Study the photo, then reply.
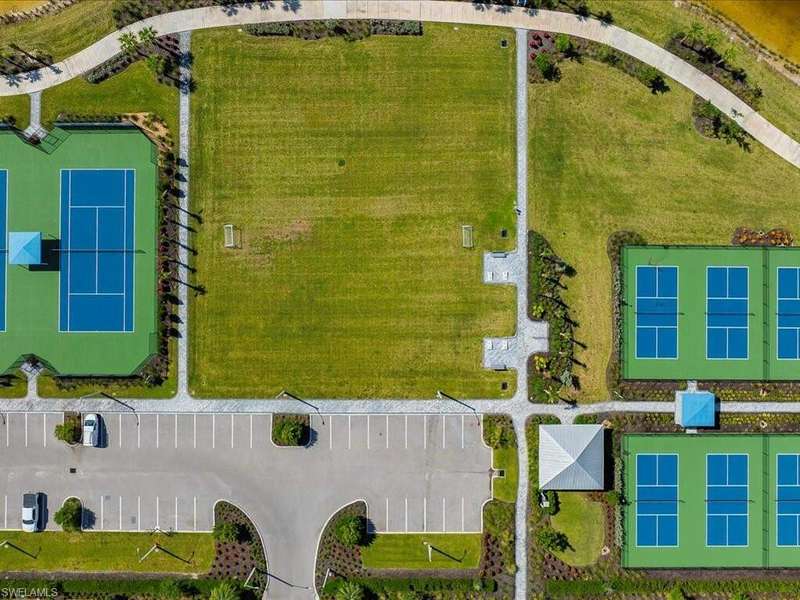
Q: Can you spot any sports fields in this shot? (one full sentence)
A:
Yes, you can see a sports field in this photo.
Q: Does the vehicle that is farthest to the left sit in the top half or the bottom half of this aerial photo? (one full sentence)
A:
The vehicle that is farthest to the left is in the bottom half of the image.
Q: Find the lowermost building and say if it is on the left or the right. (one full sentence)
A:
The lowermost building is on the right side of the image.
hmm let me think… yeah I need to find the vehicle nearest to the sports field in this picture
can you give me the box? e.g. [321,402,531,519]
[80,414,98,446]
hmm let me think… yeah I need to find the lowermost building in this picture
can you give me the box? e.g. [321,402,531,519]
[538,423,605,490]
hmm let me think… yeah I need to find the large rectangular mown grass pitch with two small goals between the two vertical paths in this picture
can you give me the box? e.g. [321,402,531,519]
[190,21,517,398]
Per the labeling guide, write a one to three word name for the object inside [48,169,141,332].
tennis court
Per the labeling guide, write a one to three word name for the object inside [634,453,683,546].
sports court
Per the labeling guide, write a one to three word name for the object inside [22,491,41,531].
vehicle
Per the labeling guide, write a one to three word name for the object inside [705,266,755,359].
sports court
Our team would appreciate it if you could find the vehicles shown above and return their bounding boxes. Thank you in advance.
[80,414,98,446]
[22,491,41,531]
